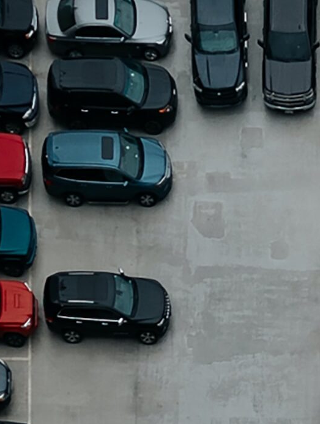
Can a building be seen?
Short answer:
No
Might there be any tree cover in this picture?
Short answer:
No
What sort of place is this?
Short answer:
parking lot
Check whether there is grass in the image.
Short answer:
No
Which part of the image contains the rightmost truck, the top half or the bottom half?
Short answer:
top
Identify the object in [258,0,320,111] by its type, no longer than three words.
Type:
truck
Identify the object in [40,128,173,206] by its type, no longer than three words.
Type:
car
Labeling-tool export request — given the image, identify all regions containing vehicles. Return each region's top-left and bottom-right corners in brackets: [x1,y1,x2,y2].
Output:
[42,269,171,344]
[45,0,173,60]
[258,0,320,111]
[40,128,173,206]
[46,54,178,132]
[0,207,38,276]
[0,0,39,58]
[0,280,38,347]
[0,61,39,134]
[0,133,32,203]
[186,0,248,107]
